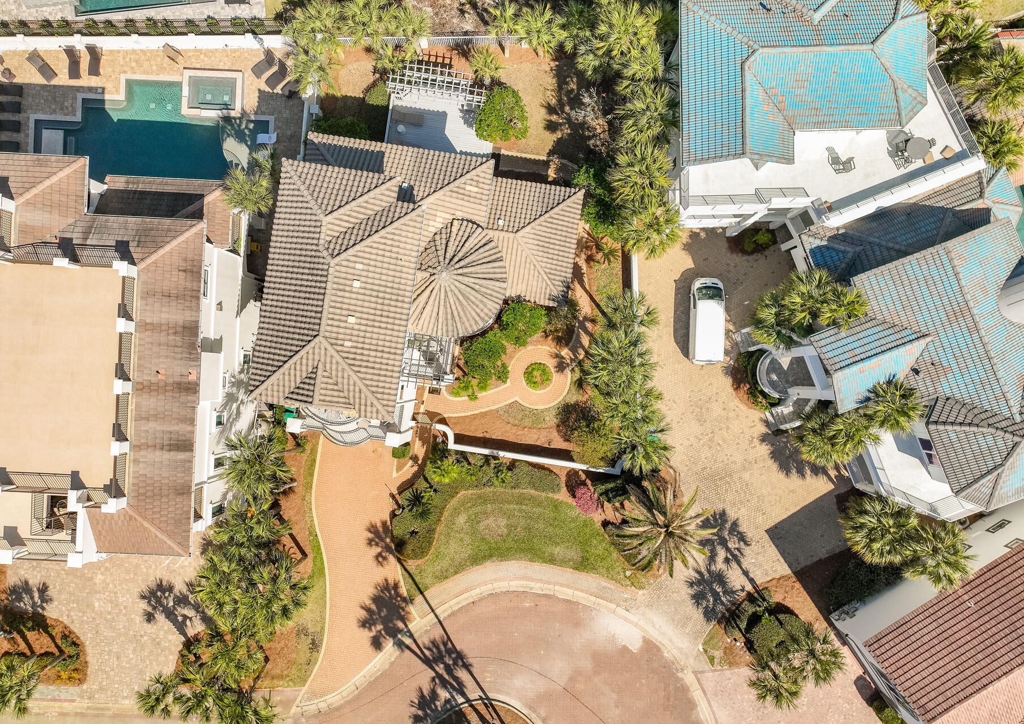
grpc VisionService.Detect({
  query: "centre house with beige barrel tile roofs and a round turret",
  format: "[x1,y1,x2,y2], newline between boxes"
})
[247,131,586,446]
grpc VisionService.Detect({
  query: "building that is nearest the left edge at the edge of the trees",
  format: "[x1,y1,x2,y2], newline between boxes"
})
[0,151,262,566]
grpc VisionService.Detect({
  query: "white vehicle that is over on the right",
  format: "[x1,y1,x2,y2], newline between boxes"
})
[687,277,728,364]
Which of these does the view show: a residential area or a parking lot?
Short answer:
residential area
